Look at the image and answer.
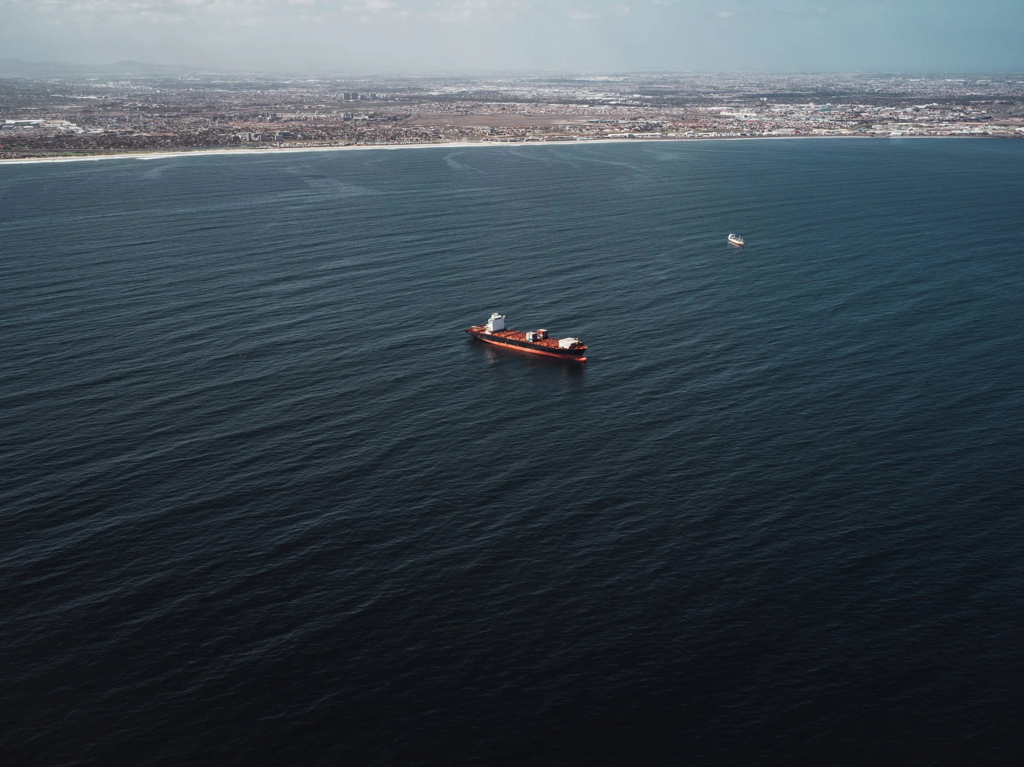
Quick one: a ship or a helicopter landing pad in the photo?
ship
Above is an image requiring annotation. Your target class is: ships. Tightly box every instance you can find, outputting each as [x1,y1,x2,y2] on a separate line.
[728,234,745,246]
[464,310,589,362]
